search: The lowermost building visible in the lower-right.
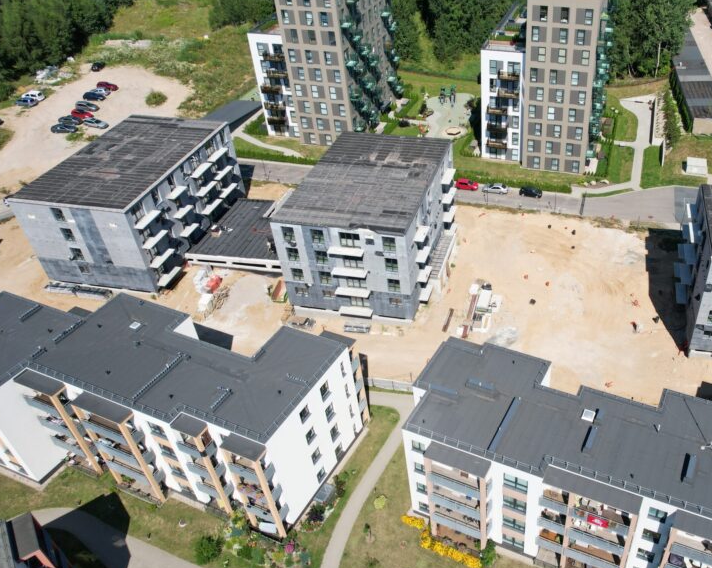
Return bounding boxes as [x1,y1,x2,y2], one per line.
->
[402,341,712,568]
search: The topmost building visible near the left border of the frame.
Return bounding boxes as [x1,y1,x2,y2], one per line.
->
[7,116,245,295]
